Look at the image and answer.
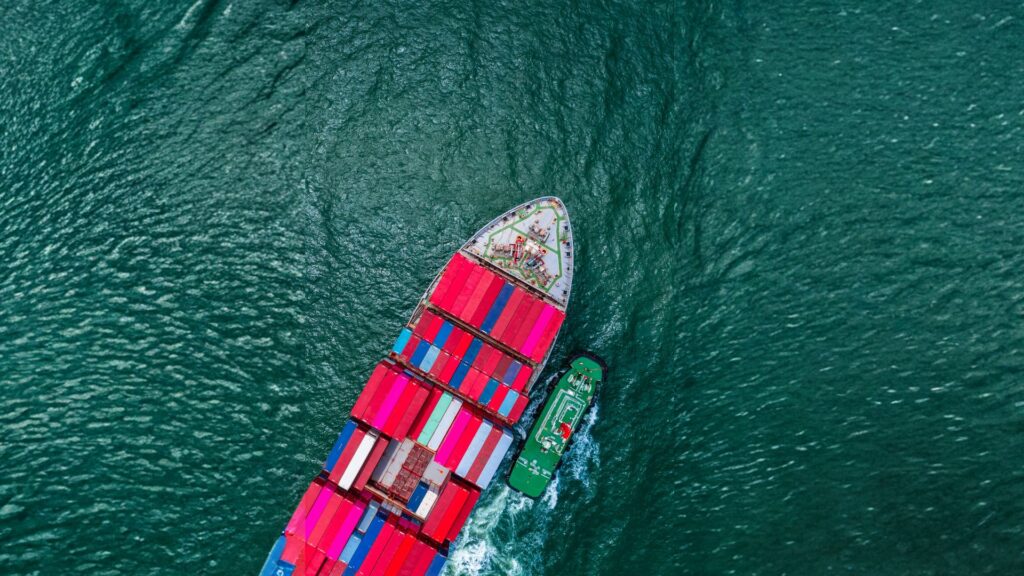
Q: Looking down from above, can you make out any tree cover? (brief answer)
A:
No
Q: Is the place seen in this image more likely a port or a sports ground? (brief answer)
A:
port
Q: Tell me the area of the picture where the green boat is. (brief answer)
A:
bottom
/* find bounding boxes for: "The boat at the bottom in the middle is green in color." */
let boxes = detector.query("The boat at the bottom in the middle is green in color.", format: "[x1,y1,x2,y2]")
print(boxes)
[505,349,608,499]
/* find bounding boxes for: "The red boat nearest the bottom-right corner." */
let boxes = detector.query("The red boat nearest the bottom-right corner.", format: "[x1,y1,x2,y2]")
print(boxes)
[556,423,569,437]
